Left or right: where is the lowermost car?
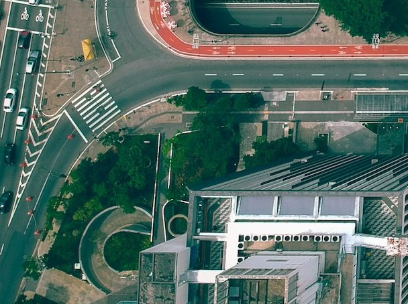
left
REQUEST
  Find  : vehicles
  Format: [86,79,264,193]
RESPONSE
[24,47,46,78]
[1,138,21,168]
[1,82,24,117]
[13,104,35,134]
[15,24,37,53]
[0,185,20,219]
[26,0,44,11]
